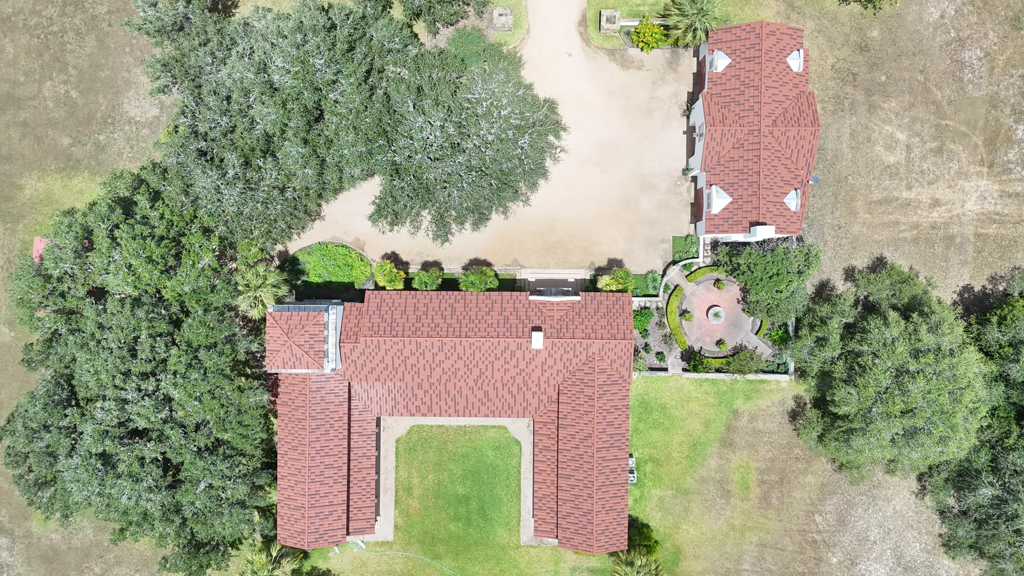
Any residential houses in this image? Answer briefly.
Yes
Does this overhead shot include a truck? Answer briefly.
No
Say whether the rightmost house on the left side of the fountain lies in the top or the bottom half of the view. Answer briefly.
bottom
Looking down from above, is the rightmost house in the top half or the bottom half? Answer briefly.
top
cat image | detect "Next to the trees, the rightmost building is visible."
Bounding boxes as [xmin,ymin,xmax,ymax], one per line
[690,19,821,241]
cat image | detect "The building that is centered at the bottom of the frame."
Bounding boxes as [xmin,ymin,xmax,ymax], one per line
[265,287,636,555]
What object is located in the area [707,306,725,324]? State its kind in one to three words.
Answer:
fountain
